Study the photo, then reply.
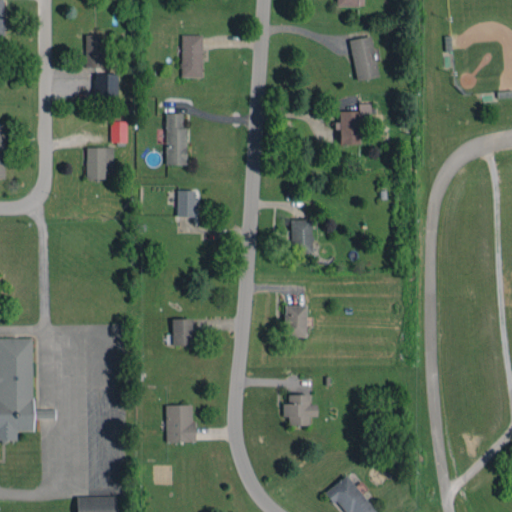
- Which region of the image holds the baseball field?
top right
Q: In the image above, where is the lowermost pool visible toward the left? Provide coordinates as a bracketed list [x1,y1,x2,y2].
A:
[146,150,162,168]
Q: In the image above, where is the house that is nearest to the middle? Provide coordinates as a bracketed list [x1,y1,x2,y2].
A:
[291,220,314,255]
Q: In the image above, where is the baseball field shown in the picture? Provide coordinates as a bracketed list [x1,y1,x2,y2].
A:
[452,0,512,94]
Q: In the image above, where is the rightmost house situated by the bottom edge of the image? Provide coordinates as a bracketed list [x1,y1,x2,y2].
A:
[328,480,380,512]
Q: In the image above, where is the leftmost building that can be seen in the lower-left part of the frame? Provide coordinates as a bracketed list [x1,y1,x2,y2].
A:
[0,339,58,444]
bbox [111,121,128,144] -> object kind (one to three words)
shed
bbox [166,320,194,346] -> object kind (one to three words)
house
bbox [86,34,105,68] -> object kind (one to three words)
house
